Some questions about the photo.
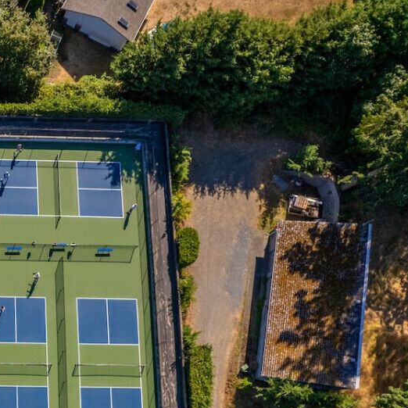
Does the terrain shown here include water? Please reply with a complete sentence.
No, no water is visible.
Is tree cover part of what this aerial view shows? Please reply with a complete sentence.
Yes, there's tree cover in this view.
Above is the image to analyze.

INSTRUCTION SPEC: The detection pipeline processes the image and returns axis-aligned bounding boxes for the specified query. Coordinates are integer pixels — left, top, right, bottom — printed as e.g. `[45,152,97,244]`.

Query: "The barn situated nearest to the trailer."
[250,222,369,388]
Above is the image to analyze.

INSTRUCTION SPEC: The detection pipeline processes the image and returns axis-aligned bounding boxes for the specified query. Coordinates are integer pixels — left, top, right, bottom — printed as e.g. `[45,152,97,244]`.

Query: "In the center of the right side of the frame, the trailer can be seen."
[277,195,321,220]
